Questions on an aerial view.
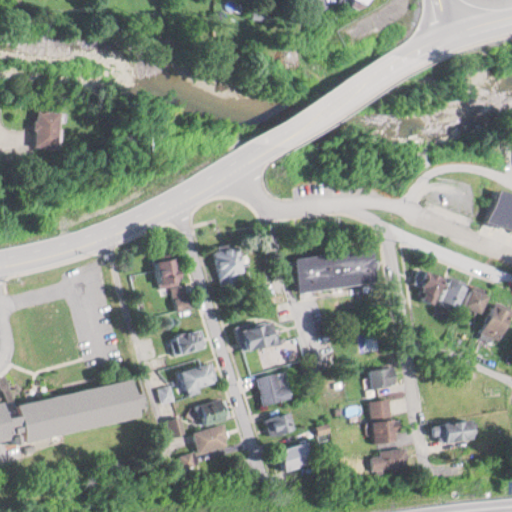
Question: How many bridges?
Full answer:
I count 1 bridge.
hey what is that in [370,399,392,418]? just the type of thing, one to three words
house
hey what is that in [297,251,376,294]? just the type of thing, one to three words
building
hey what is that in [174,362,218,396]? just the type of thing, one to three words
house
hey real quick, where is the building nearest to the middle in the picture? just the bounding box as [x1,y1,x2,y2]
[212,244,250,278]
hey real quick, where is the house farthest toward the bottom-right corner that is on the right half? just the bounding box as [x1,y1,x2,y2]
[440,420,480,444]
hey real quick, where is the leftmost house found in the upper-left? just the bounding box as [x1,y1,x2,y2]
[34,111,67,147]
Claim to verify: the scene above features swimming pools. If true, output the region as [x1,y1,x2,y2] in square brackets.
[344,404,362,422]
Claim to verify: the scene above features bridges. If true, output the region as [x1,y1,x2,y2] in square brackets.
[245,44,420,158]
